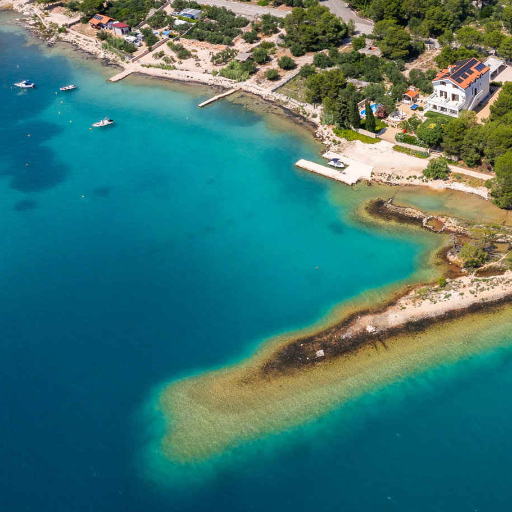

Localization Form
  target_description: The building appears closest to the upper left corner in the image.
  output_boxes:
[85,17,113,34]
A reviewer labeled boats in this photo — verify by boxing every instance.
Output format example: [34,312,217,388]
[91,115,114,126]
[13,78,36,87]
[59,83,77,91]
[327,156,344,166]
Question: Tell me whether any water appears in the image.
Yes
